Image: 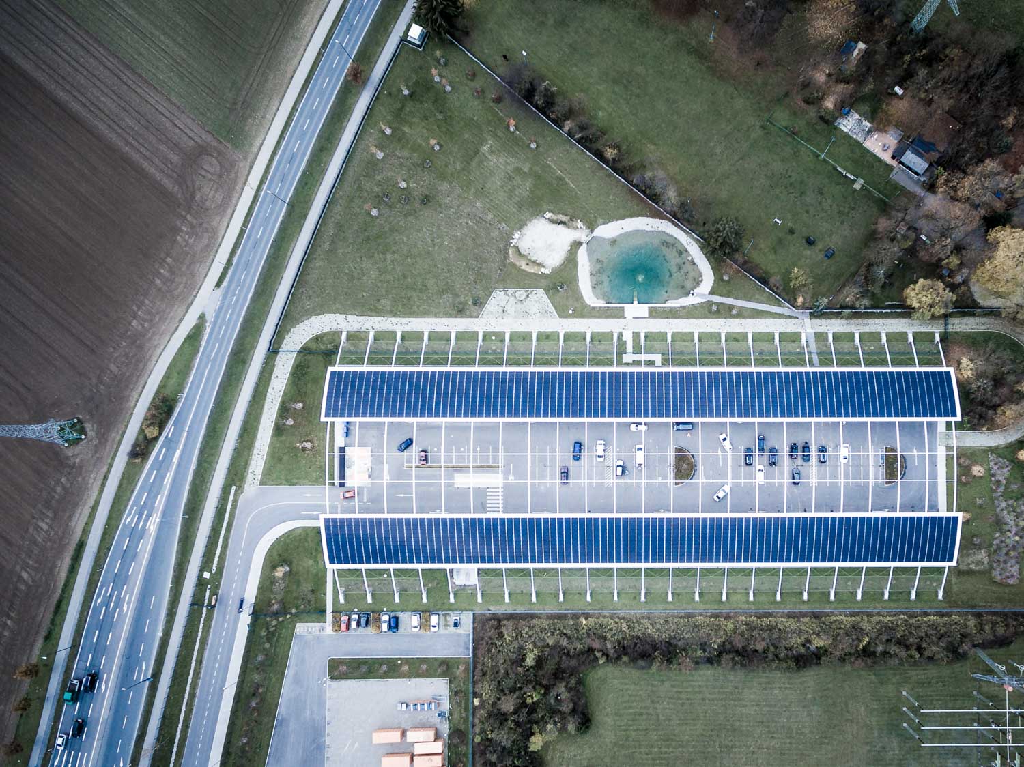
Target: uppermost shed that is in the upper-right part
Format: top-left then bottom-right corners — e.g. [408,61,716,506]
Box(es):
[839,40,867,65]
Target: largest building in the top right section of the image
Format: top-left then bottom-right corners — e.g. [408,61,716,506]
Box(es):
[892,132,938,180]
